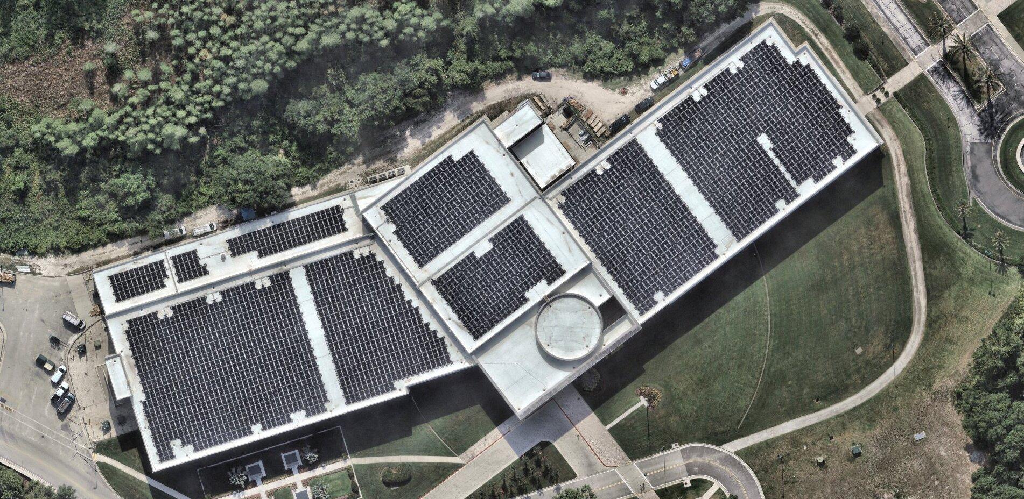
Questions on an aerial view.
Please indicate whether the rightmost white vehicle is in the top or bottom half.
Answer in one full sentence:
It is in the top half that the rightmost white vehicle appears.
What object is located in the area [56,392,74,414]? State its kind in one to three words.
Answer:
vehicle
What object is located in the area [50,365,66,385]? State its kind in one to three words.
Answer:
car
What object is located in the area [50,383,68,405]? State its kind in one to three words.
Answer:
vehicle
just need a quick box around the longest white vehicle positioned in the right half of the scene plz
[650,70,678,90]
